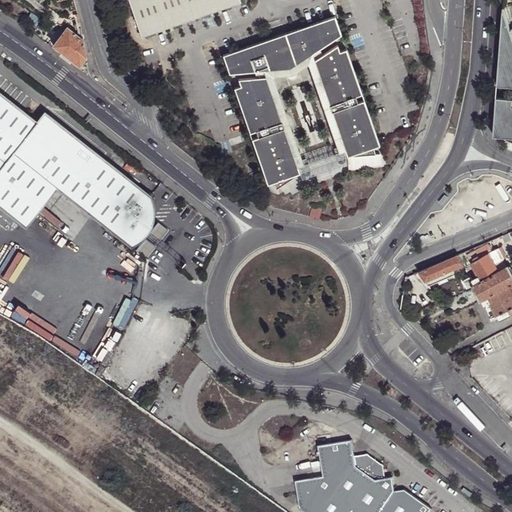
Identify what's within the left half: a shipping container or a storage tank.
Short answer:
shipping container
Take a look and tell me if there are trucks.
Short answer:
Yes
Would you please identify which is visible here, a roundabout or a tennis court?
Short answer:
roundabout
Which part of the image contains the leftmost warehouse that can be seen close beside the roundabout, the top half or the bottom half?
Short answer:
top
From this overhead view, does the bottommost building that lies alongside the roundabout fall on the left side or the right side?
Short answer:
right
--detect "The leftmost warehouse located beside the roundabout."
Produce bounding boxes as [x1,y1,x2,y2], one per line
[0,93,156,247]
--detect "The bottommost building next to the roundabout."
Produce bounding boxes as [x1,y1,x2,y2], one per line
[295,440,432,512]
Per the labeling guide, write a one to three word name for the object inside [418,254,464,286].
house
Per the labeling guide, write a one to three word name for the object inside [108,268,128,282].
work vehicle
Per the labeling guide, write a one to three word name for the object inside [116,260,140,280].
vehicle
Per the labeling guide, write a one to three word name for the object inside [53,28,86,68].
house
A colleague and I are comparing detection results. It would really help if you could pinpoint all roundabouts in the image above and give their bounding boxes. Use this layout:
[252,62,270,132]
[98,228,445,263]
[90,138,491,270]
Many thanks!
[206,222,370,386]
